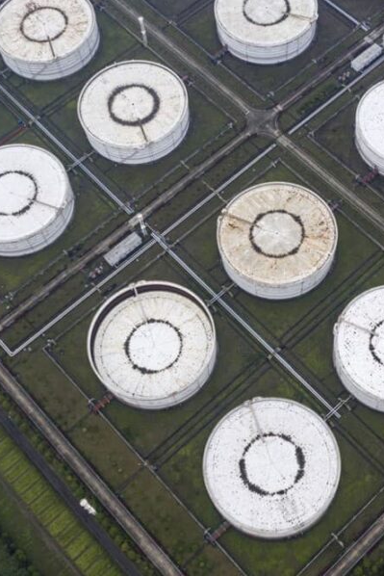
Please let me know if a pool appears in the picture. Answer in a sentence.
No, no pool can be seen from above.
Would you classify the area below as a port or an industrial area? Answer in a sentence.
The area seen from above is an industrial area.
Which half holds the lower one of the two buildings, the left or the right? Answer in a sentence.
The lower one of the two buildings sits on the left side.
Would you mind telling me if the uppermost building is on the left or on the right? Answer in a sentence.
You can find the uppermost building on the right side of the picture.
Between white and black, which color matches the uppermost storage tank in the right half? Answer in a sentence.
In this view, the uppermost storage tank in the right half is white.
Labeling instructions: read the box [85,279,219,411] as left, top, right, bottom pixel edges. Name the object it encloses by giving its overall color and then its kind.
white storage tank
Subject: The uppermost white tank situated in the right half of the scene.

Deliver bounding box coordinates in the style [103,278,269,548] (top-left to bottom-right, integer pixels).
[213,0,322,66]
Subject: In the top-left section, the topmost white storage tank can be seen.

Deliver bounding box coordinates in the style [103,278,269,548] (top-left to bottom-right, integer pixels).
[0,0,102,81]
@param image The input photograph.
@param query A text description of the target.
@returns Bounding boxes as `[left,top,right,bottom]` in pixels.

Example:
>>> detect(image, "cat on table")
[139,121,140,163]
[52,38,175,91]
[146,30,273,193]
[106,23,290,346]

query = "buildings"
[350,39,384,70]
[103,229,144,265]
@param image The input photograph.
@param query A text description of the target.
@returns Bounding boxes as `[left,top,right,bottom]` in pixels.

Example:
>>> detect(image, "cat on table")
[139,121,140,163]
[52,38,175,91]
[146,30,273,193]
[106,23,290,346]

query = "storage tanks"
[0,0,102,81]
[213,0,322,66]
[352,79,384,178]
[0,143,77,259]
[75,58,192,167]
[215,180,339,302]
[85,279,219,411]
[202,395,343,543]
[331,283,384,414]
